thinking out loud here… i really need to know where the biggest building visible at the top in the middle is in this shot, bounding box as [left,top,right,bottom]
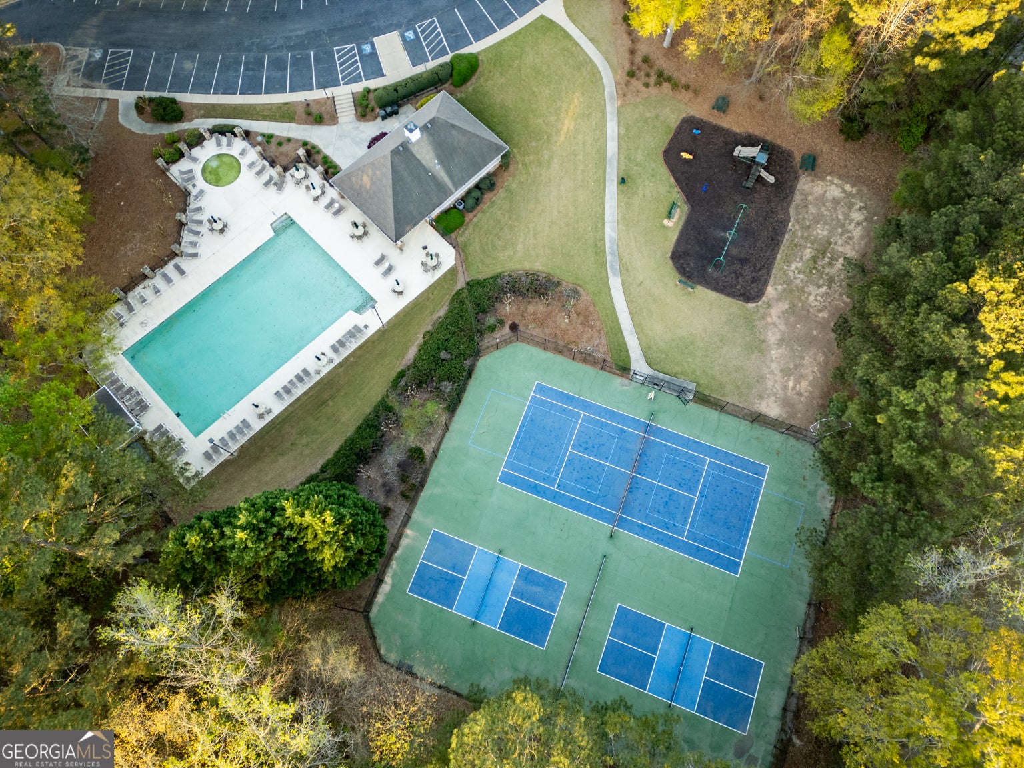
[329,91,510,254]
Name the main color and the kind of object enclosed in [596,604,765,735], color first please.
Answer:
blue sports court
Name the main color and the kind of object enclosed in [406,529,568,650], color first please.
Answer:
blue sports court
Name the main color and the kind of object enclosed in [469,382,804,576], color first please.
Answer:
blue tennis court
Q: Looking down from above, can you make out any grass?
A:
Yes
